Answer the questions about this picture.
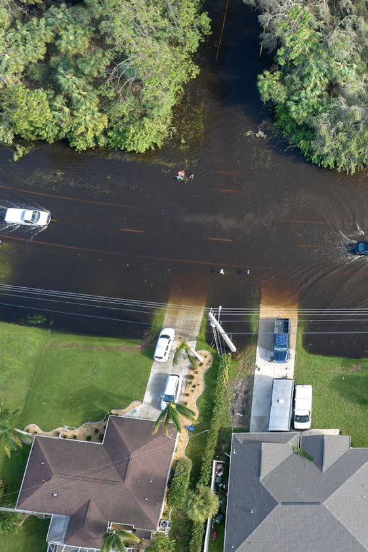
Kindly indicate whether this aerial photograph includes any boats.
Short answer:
No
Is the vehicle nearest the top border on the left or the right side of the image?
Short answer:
left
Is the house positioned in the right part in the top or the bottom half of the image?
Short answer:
bottom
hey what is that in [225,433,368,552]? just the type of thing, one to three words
house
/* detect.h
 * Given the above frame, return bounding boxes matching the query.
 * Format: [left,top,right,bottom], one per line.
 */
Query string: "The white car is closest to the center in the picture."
[151,327,177,362]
